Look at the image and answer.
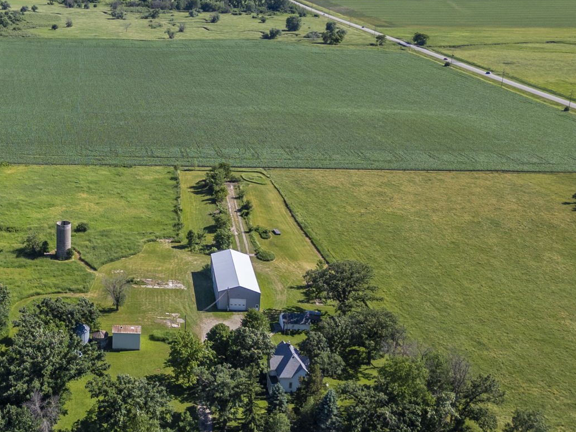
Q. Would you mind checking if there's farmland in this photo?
Yes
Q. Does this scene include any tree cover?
Yes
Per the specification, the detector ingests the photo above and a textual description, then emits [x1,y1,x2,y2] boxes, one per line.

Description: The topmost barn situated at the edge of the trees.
[208,248,262,309]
